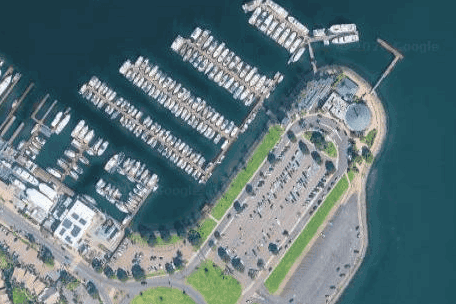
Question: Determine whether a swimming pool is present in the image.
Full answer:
No, there isn't any swimming pool down there.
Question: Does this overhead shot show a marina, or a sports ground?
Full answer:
It's a marina.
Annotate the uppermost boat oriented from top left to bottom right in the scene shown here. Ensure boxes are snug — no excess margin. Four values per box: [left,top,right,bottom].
[268,0,289,17]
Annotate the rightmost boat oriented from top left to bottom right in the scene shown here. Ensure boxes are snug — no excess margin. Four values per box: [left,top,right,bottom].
[289,16,310,34]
